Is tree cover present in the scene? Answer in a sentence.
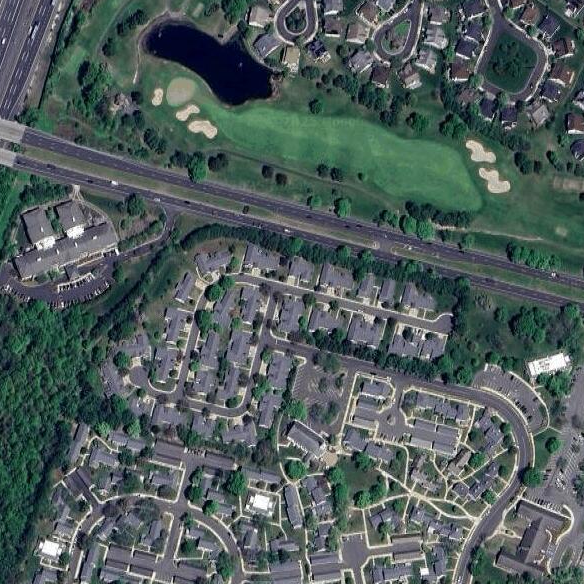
Yes, the picture does contain tree cover.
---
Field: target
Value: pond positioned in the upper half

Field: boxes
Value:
[146,22,273,104]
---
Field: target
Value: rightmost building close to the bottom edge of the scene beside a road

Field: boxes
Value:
[495,499,566,579]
